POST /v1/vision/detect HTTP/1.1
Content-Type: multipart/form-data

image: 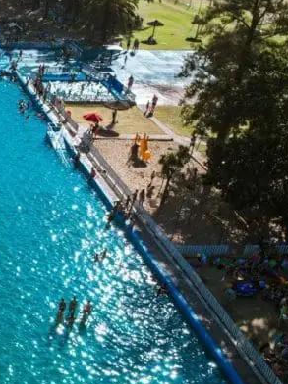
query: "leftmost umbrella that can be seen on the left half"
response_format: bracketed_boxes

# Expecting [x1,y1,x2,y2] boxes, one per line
[83,108,115,134]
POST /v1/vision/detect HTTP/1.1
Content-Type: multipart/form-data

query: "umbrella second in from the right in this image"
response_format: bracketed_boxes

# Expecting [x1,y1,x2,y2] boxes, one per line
[142,16,170,40]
